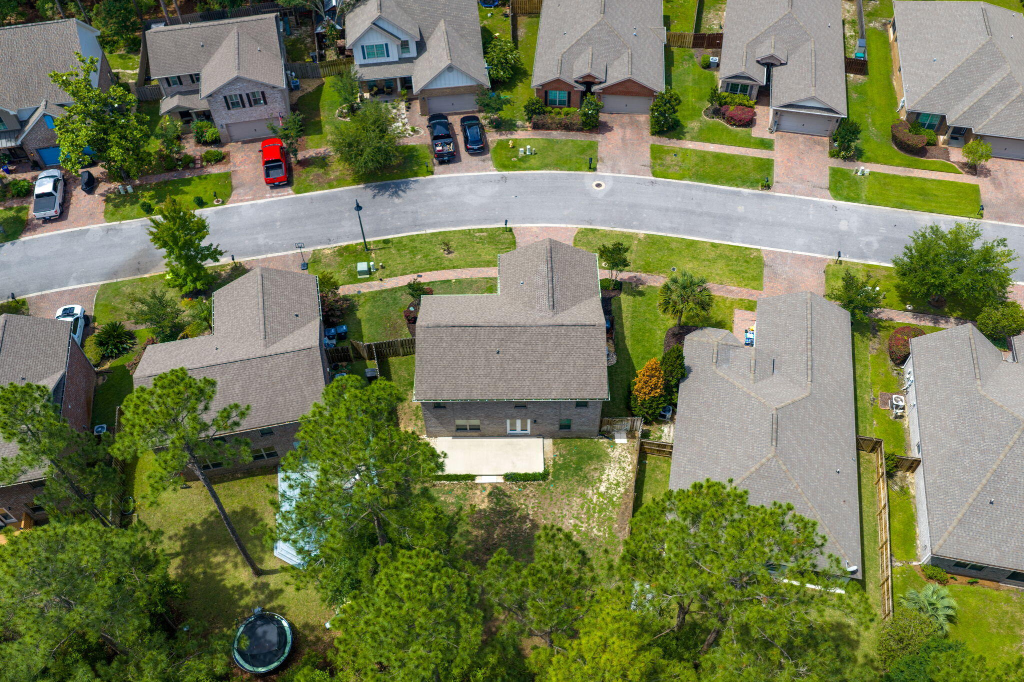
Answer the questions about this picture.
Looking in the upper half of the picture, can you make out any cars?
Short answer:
Yes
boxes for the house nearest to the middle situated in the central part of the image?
[413,238,610,444]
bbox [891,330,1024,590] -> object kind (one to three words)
house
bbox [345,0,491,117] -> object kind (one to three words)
house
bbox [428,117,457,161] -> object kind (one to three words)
truck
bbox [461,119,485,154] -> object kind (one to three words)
car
